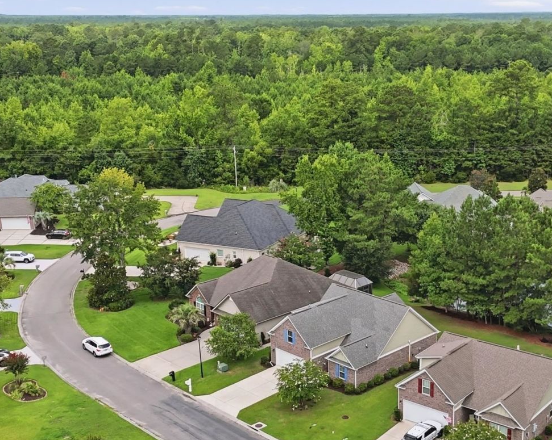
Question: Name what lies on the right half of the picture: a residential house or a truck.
residential house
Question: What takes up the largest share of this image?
trees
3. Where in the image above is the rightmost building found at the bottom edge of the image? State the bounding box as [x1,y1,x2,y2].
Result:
[392,331,552,440]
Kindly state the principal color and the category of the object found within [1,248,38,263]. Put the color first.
white car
